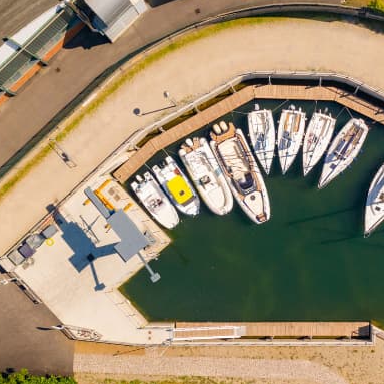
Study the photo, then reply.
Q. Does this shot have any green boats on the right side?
No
